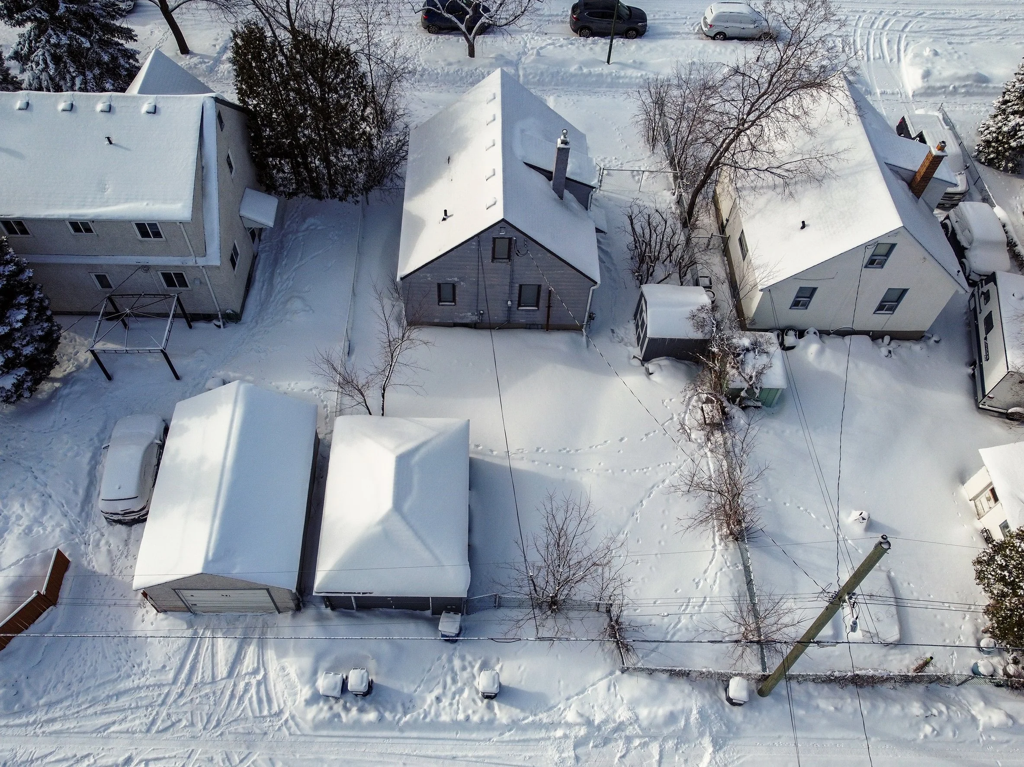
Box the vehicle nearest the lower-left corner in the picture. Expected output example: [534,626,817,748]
[90,415,171,526]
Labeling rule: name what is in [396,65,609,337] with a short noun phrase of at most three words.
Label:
house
